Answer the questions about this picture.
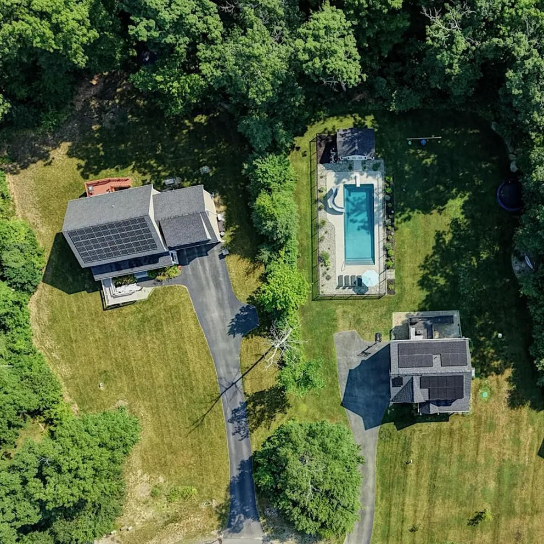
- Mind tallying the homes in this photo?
2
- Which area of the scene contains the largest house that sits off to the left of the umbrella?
left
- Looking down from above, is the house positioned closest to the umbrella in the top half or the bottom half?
bottom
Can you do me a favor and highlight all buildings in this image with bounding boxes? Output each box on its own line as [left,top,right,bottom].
[390,310,471,414]
[63,177,219,284]
[336,124,375,160]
